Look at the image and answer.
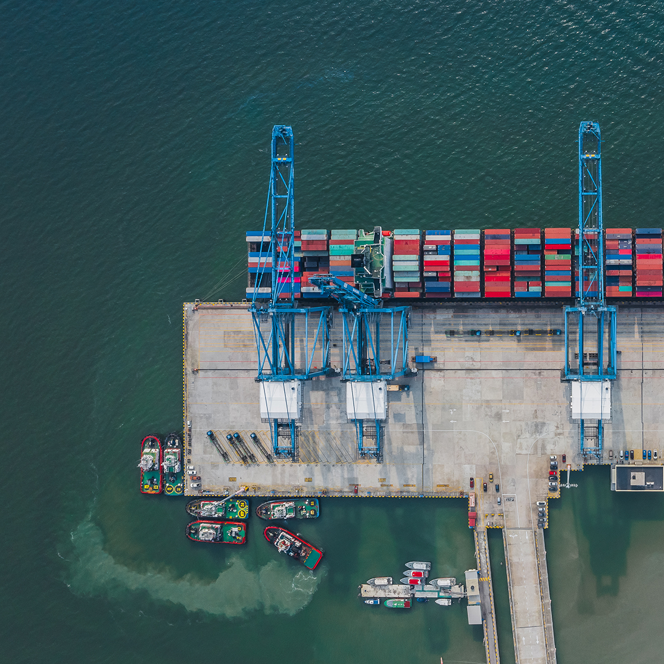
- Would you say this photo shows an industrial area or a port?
port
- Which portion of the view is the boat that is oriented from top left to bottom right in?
bottom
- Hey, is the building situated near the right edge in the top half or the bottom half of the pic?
bottom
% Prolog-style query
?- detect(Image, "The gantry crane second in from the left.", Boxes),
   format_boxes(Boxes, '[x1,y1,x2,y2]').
[308,273,417,458]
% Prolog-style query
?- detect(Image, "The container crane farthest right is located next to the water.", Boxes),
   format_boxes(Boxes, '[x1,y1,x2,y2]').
[557,123,620,458]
